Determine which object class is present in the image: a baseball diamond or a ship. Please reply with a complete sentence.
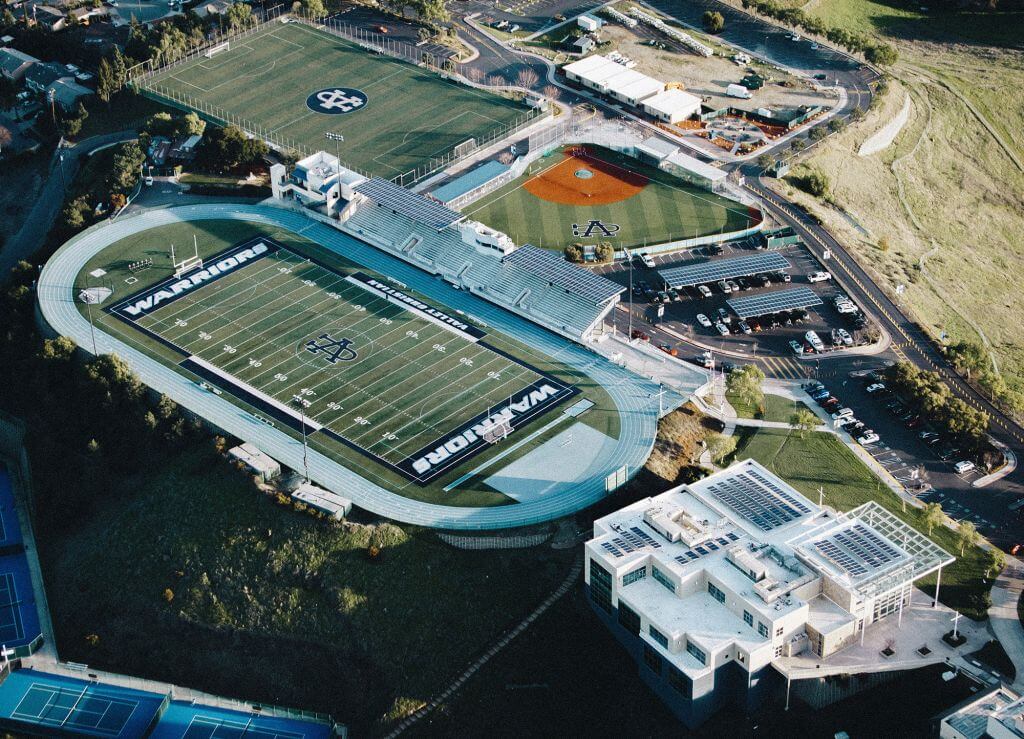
Of the two, only a baseball diamond appears.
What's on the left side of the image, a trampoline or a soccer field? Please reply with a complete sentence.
The feature located on the left side of the image is a soccer field.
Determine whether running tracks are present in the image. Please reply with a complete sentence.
Yes, there's a running track here.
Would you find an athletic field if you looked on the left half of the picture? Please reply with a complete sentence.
Yes, an athletic field appears on the left half of the picture.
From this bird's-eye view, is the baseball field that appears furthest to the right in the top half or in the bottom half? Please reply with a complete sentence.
You can find the baseball field that appears furthest to the right in the top half.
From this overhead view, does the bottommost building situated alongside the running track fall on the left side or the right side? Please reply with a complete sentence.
You can find the bottommost building situated alongside the running track on the right side of the picture.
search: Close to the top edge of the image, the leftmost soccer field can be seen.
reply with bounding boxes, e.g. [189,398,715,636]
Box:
[128,15,542,189]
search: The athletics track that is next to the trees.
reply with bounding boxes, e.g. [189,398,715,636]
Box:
[37,203,658,530]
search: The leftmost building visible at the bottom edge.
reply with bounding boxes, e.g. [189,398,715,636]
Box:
[583,456,955,735]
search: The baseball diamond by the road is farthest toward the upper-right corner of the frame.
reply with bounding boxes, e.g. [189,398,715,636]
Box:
[453,144,768,258]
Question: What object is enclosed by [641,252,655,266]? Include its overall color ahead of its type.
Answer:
white car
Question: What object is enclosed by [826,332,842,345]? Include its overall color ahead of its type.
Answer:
gray vehicle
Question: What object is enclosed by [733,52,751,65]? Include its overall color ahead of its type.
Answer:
white vehicle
